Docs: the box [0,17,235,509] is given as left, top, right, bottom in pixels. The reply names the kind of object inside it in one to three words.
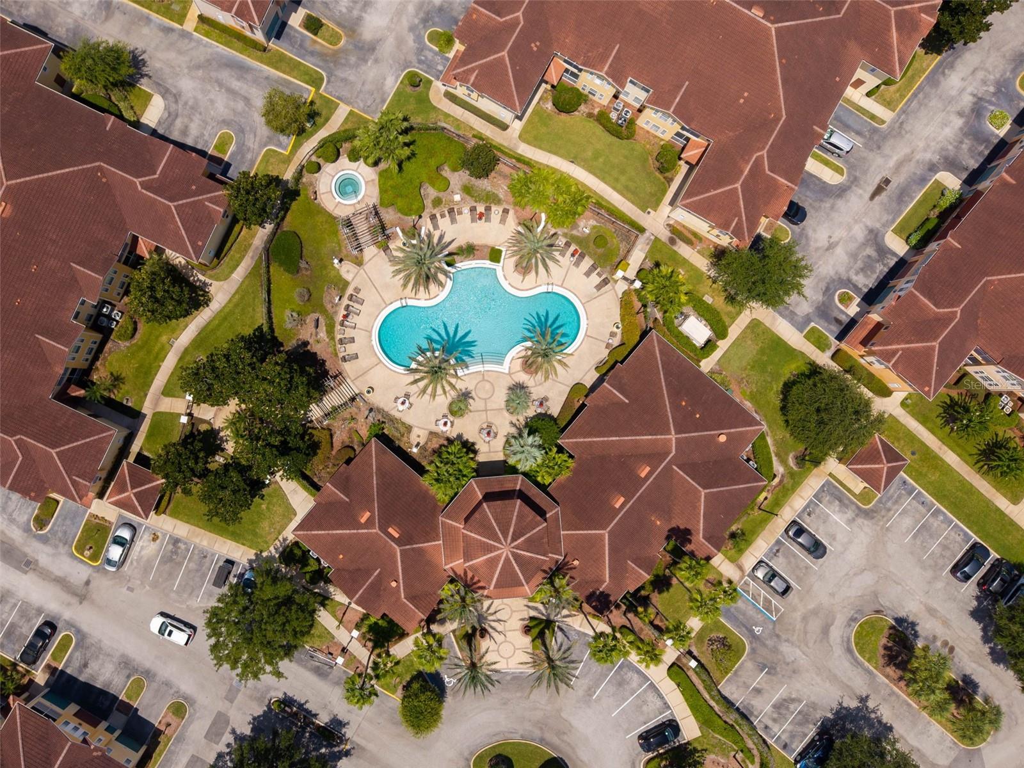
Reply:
building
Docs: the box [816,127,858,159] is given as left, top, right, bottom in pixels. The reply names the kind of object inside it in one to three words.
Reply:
car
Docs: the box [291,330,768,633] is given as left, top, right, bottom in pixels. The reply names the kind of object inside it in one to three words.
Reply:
building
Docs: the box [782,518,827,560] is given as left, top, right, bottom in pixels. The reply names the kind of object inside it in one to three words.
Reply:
car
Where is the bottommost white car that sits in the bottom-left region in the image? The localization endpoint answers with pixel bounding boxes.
[146,610,201,647]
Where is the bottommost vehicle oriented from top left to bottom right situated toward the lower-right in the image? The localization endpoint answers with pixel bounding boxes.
[748,558,796,601]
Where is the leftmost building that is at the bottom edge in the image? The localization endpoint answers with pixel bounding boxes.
[0,687,183,768]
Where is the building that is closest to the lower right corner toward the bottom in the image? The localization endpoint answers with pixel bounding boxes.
[833,433,910,496]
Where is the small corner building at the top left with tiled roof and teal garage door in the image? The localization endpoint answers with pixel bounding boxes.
[200,0,292,42]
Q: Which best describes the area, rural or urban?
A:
urban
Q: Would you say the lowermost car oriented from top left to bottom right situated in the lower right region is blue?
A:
No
